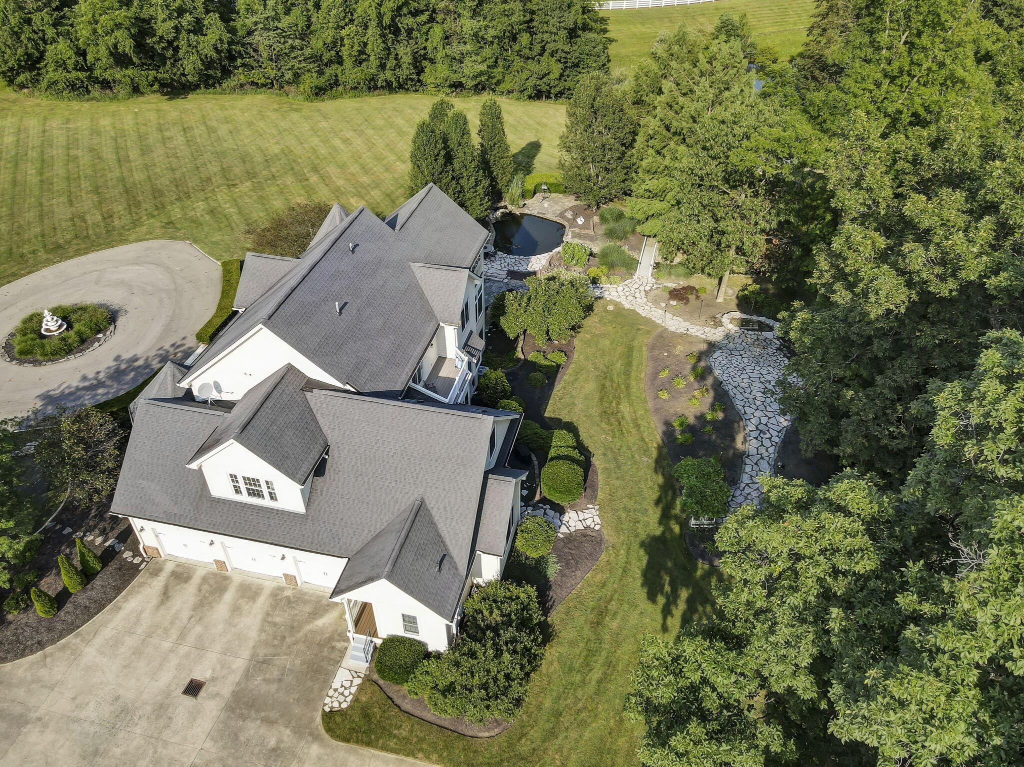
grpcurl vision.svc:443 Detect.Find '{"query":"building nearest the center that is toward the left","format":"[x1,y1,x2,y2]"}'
[108,183,528,664]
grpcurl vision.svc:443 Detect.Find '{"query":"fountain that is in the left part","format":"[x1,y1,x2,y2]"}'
[36,307,66,337]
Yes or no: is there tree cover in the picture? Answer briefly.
Yes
